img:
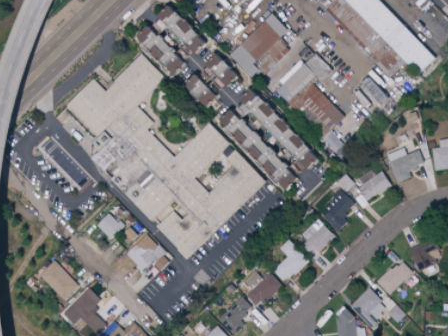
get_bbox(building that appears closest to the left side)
[42,261,80,300]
